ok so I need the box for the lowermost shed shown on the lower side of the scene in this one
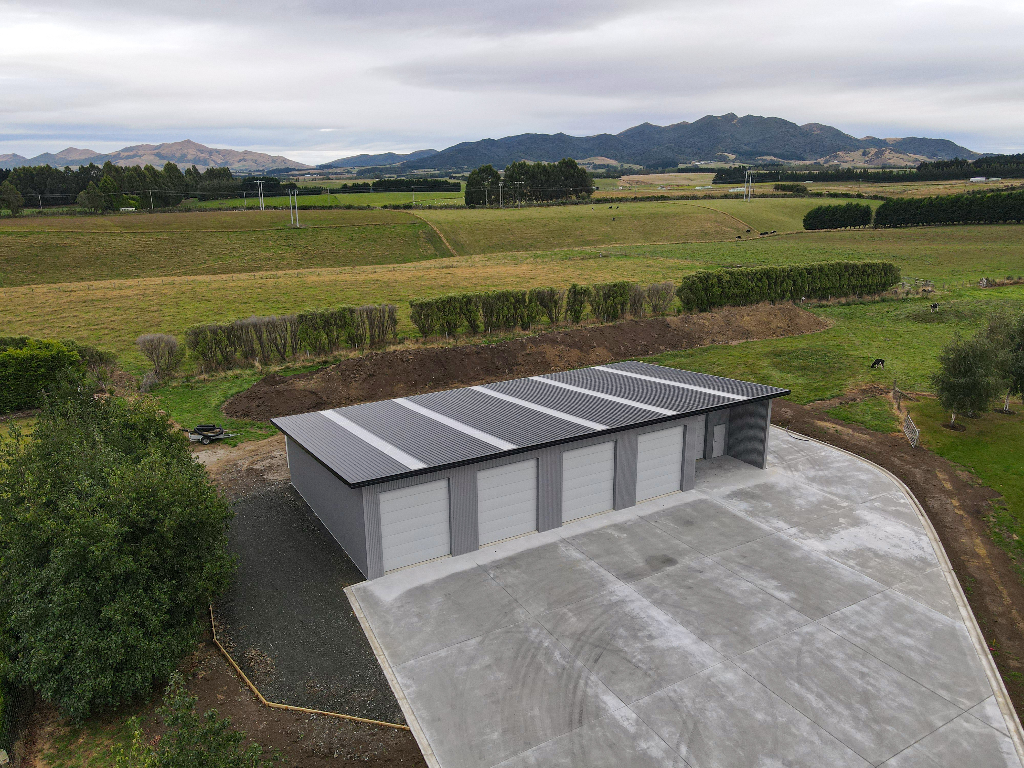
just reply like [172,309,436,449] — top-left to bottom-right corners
[270,360,792,581]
